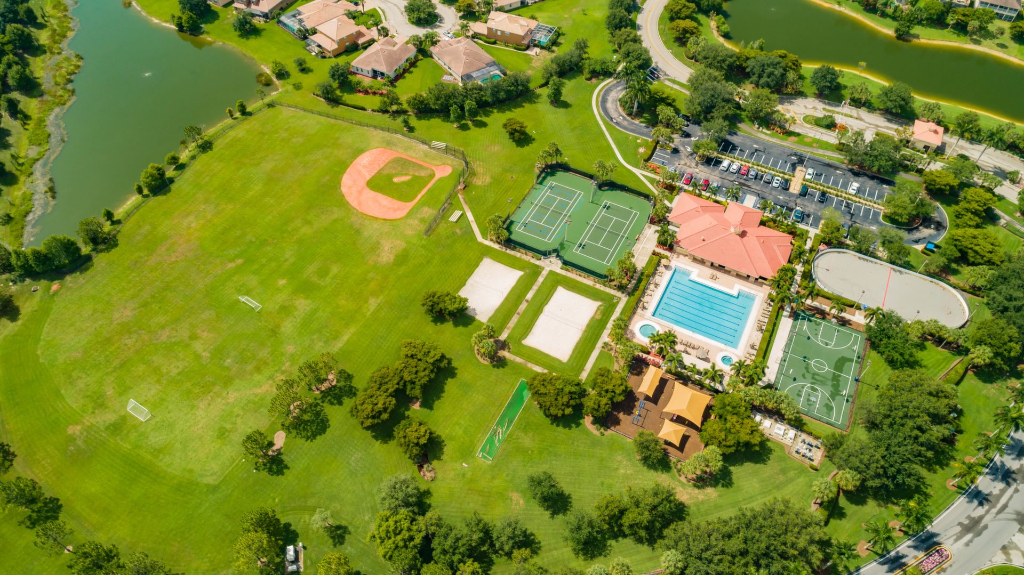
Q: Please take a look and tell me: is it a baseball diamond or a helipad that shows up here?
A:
baseball diamond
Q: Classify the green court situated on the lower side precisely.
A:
basketball court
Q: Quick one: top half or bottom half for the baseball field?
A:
top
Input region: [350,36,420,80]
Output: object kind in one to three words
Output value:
house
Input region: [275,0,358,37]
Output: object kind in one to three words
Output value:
house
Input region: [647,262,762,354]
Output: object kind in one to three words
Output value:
swimming pool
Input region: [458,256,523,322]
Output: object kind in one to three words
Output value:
sports court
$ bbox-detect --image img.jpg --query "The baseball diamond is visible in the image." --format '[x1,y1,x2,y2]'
[341,148,453,220]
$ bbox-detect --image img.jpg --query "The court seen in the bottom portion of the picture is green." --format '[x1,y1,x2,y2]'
[770,308,867,432]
